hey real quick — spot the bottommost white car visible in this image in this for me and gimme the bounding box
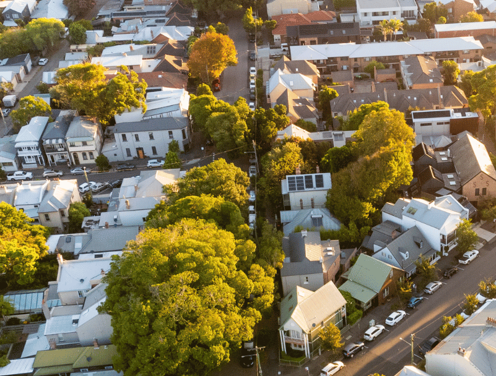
[318,361,345,376]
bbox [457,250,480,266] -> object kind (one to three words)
vehicle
